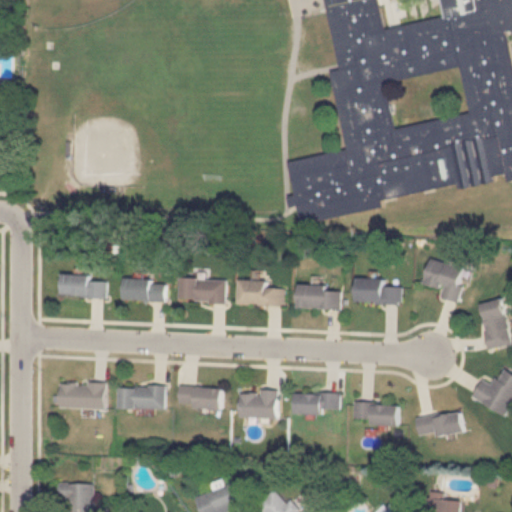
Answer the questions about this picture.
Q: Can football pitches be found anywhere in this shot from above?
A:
Yes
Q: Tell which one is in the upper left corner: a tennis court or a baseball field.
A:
baseball field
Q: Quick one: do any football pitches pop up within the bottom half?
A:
No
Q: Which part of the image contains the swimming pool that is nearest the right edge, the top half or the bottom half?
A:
bottom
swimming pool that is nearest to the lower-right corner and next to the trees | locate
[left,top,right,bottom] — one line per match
[436,474,480,502]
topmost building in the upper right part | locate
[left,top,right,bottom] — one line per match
[287,0,512,219]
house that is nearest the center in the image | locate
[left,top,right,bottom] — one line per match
[234,271,288,307]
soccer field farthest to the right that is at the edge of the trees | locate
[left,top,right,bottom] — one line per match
[196,88,254,184]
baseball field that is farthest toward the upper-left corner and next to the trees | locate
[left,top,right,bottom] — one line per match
[75,40,180,187]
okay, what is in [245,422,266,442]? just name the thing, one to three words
swimming pool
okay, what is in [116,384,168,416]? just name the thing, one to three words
house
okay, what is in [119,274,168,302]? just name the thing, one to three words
house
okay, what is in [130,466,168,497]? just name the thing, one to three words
swimming pool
